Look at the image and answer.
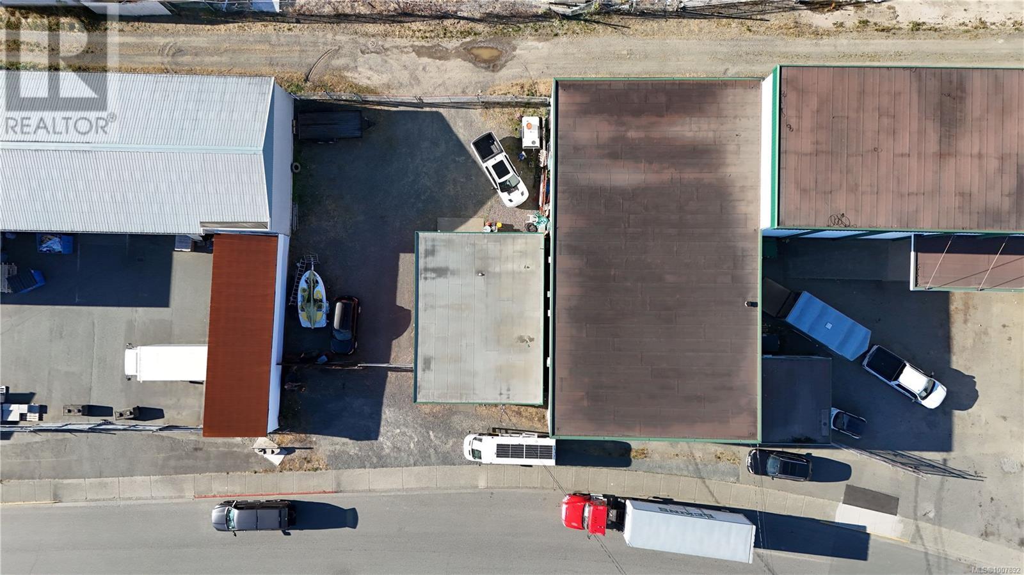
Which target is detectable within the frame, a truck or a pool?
truck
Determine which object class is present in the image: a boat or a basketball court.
boat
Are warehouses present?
Yes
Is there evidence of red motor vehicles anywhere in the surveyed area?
Yes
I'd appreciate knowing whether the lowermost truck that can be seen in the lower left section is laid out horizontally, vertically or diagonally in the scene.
horizontally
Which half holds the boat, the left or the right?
left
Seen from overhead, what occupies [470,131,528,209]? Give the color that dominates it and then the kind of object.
white truck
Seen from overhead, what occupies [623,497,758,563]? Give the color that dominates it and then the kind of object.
white trailer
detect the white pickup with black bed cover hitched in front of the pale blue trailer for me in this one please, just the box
[859,344,944,408]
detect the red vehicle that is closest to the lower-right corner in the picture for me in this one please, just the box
[557,488,663,534]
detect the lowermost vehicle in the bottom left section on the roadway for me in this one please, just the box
[212,498,297,537]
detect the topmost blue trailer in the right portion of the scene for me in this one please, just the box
[759,273,872,361]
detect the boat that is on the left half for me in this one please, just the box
[297,270,329,329]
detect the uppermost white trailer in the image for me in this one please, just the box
[520,116,542,161]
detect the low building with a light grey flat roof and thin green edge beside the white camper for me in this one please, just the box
[414,232,545,409]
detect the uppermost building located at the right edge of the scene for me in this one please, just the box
[760,66,1024,293]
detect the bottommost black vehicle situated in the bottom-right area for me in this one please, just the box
[745,447,813,483]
